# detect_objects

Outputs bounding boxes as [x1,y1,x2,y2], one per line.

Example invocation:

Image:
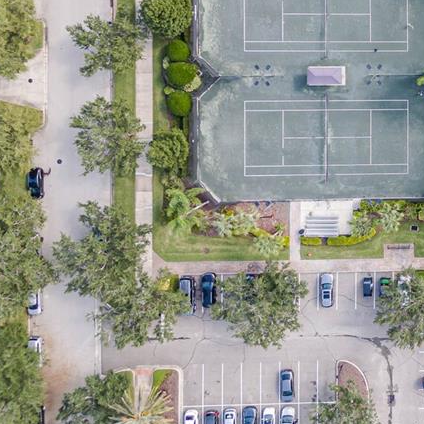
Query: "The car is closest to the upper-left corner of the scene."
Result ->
[28,167,51,197]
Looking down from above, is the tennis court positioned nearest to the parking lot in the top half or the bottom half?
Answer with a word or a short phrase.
top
